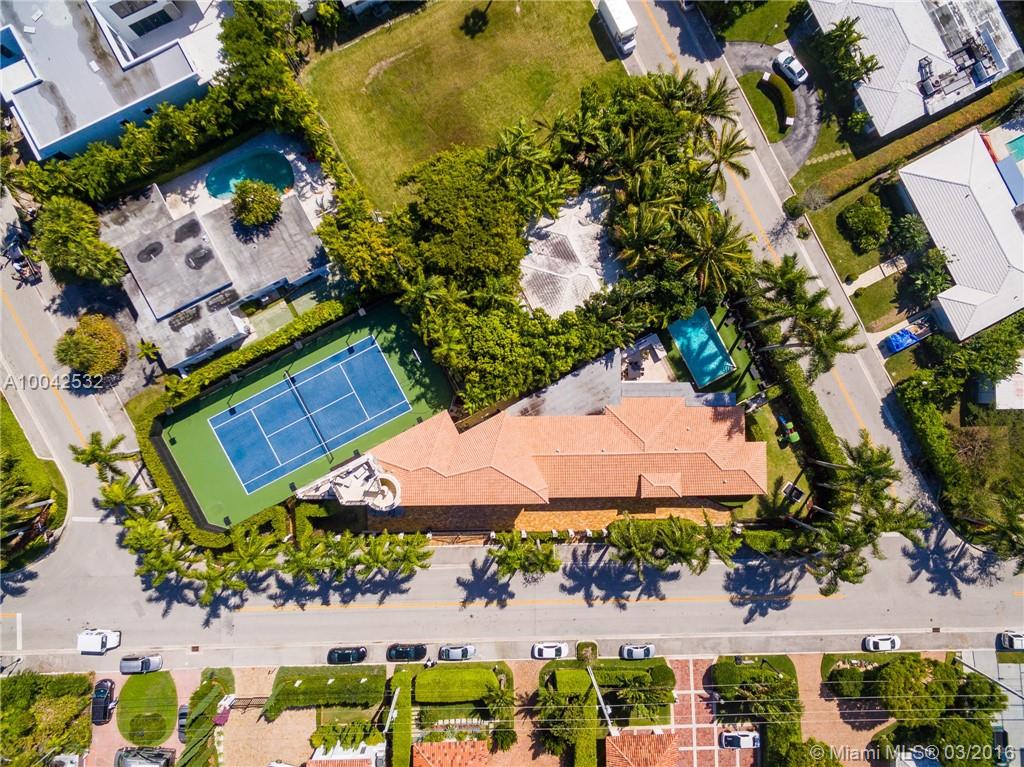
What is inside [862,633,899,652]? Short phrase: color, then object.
white car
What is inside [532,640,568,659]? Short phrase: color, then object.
white car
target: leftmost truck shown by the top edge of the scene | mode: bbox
[592,0,643,66]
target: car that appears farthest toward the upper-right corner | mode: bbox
[775,49,807,87]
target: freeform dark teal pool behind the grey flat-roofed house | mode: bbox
[204,146,297,203]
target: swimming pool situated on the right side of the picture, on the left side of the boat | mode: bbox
[668,305,739,391]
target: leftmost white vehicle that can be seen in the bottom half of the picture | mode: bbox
[71,630,122,656]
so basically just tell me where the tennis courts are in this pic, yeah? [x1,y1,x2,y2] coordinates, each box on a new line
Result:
[163,308,456,528]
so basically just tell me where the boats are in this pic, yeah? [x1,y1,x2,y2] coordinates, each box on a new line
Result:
[876,321,933,359]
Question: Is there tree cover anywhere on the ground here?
Yes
